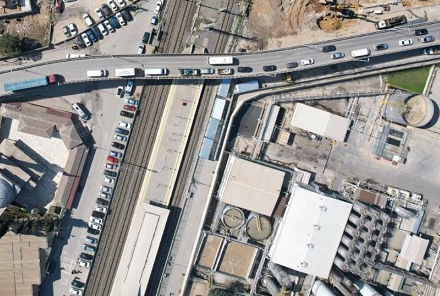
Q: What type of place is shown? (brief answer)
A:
industrial area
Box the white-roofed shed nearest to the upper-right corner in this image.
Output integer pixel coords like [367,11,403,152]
[284,102,351,142]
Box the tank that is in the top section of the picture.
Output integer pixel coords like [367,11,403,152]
[389,93,437,128]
